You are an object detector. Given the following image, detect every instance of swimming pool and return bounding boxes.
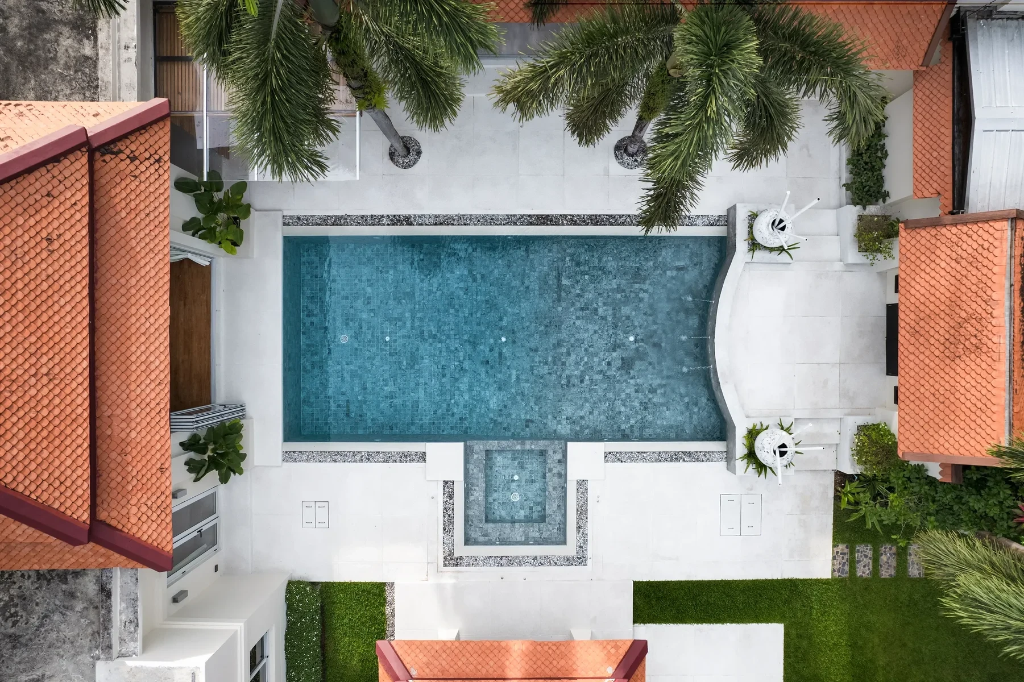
[283,226,727,555]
